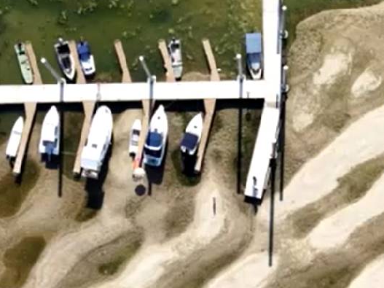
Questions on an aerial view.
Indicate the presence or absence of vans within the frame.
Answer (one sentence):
No, the photo shows no van.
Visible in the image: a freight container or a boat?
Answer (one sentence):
The image shows a boat.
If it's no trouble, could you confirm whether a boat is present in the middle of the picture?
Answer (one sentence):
Yes, a boat shows up in the middle of the picture.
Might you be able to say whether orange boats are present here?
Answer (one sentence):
No, the photo shows no orange boat.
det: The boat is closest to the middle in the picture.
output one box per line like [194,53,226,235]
[185,112,204,157]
